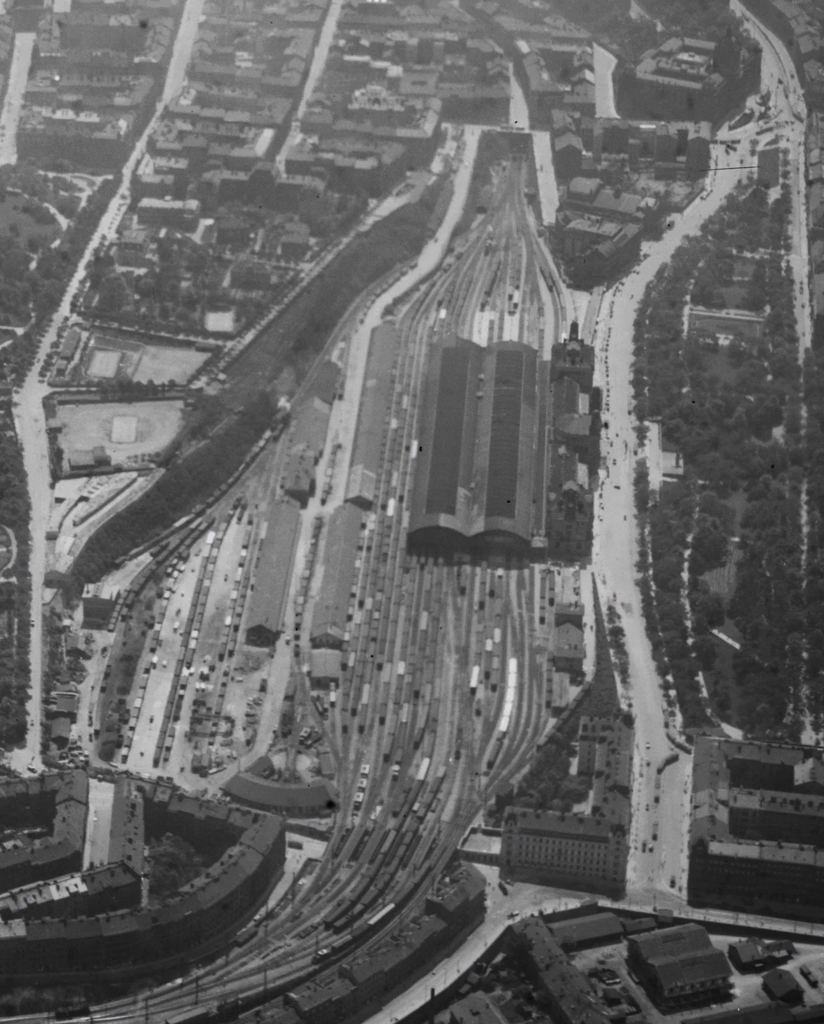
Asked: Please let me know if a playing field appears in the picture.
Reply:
Yes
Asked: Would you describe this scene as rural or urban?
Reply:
urban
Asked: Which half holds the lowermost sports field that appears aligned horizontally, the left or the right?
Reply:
left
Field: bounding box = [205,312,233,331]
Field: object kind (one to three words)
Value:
sports court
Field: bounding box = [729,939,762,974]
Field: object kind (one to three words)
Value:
house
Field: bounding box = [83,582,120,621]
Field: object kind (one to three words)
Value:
building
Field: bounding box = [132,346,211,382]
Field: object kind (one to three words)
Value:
sports field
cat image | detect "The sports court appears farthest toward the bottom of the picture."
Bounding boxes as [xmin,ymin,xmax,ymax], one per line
[111,417,137,442]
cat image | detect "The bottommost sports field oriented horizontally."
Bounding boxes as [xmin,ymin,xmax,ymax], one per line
[56,401,184,471]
